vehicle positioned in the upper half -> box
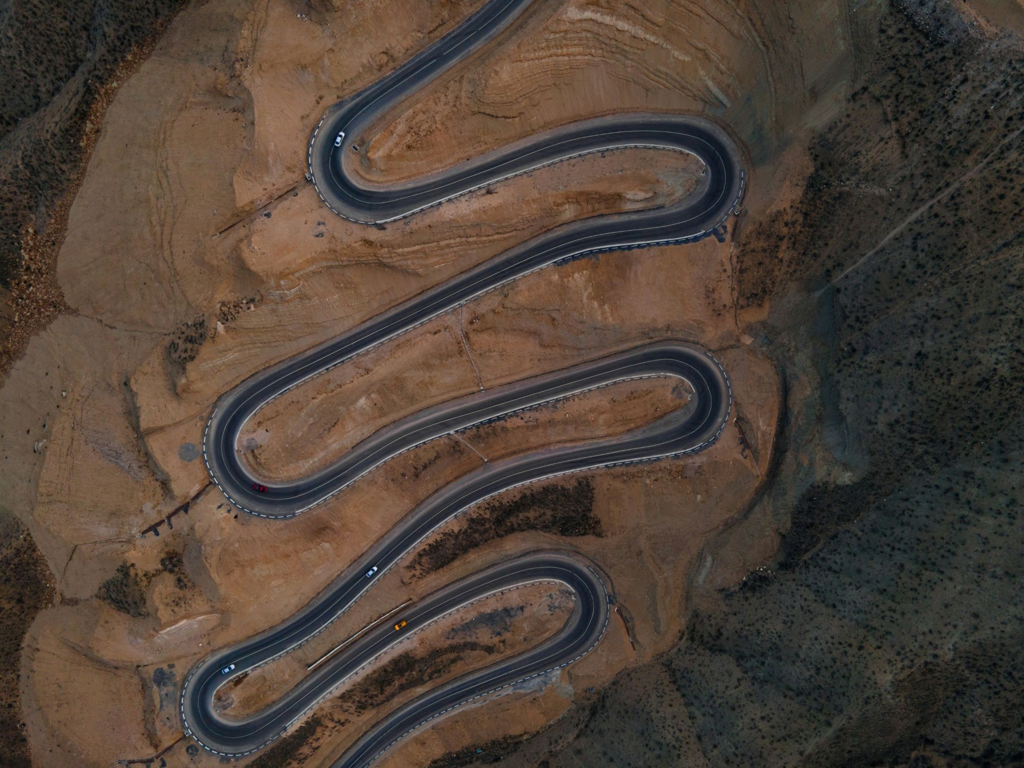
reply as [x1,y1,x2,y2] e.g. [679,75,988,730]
[334,131,346,147]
